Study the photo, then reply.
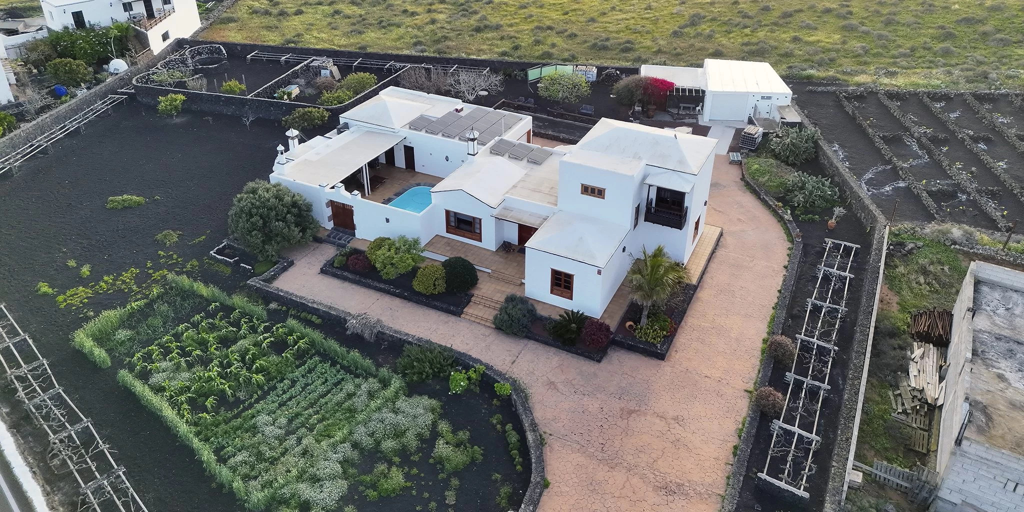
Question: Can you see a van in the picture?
No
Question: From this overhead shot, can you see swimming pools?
Yes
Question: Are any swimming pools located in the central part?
Yes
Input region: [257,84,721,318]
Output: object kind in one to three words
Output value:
house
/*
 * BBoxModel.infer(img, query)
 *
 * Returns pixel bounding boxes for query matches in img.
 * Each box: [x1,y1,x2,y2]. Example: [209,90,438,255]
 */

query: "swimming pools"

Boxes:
[381,182,439,236]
